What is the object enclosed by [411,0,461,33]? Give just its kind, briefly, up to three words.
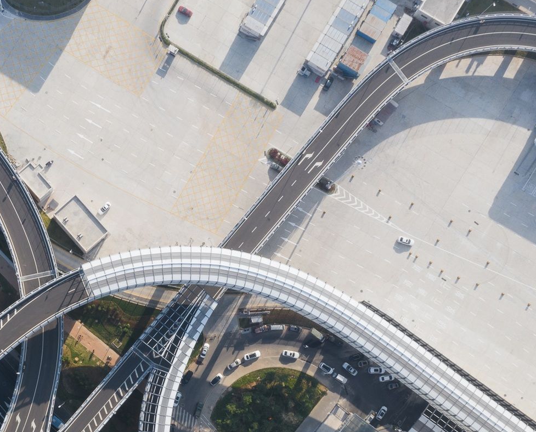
building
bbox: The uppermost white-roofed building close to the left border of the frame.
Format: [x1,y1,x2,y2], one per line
[19,163,53,203]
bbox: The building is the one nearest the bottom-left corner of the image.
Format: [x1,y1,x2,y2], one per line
[55,196,108,255]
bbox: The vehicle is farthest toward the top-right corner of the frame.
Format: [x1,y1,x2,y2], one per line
[392,6,415,42]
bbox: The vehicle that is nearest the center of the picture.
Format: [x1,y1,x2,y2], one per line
[265,158,282,172]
